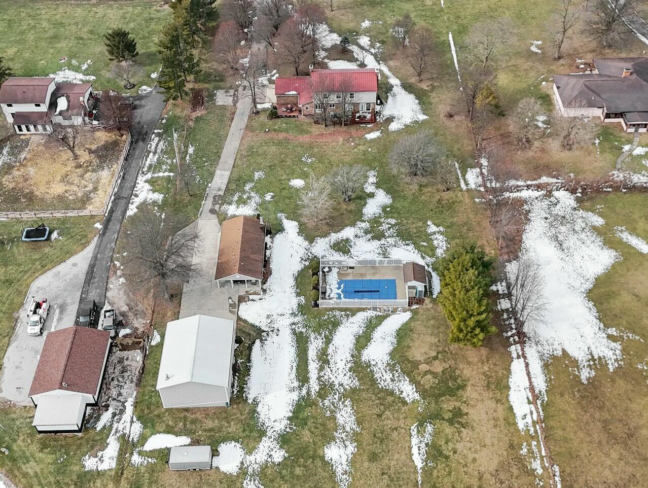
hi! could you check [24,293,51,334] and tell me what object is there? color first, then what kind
white truck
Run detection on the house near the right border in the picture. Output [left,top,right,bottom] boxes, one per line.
[555,57,648,135]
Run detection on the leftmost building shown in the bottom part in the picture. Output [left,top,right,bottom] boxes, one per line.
[27,325,115,437]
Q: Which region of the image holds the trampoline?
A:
left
